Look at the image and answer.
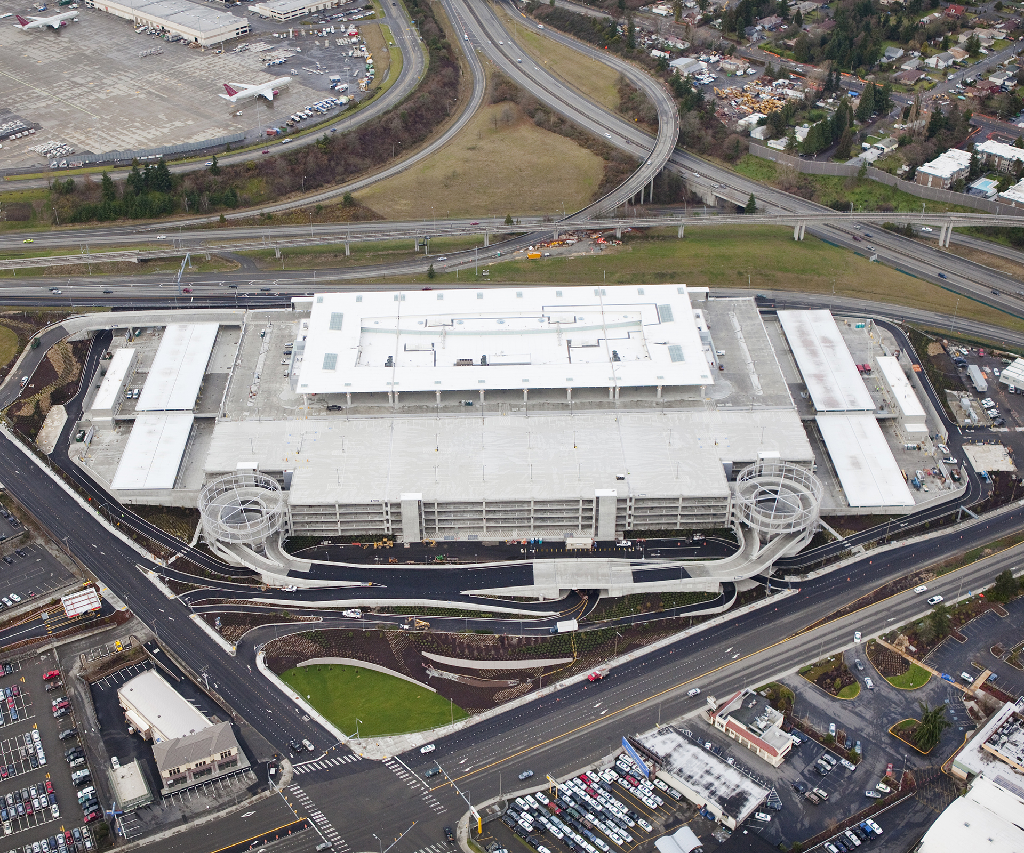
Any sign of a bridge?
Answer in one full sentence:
Yes, I can see a bridge in this picture.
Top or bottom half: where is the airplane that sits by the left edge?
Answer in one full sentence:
The airplane that sits by the left edge sits in the top half of the picture.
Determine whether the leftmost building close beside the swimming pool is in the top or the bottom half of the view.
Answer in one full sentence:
Seen from above, the leftmost building close beside the swimming pool lies in the top half of the view.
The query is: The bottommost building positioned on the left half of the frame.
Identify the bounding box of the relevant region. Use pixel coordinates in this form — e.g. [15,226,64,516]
[110,761,154,820]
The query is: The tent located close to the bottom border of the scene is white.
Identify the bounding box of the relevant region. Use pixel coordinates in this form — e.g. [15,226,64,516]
[654,825,703,853]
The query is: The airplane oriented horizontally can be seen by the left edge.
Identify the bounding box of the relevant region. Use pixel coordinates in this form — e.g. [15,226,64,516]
[9,14,82,34]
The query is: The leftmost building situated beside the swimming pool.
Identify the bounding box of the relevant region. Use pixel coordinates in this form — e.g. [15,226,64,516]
[914,148,971,191]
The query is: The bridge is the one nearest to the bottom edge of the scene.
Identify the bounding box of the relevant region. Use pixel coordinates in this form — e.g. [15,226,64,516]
[289,557,721,597]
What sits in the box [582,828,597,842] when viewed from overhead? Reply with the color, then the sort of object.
blue car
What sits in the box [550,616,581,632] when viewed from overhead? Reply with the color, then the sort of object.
white vehicle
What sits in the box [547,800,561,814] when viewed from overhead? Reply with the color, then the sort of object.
red car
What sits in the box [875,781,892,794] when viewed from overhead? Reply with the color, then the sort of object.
white vehicle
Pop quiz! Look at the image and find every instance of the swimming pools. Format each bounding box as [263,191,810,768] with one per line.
[970,177,1000,195]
